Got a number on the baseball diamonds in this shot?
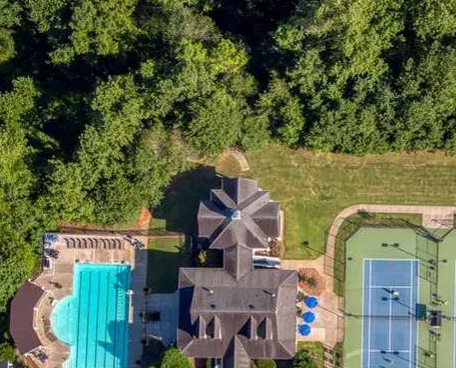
0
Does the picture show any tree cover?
Yes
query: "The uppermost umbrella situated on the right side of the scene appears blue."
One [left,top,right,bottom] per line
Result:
[304,296,317,309]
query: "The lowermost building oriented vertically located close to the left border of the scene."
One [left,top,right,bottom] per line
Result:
[11,279,49,356]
